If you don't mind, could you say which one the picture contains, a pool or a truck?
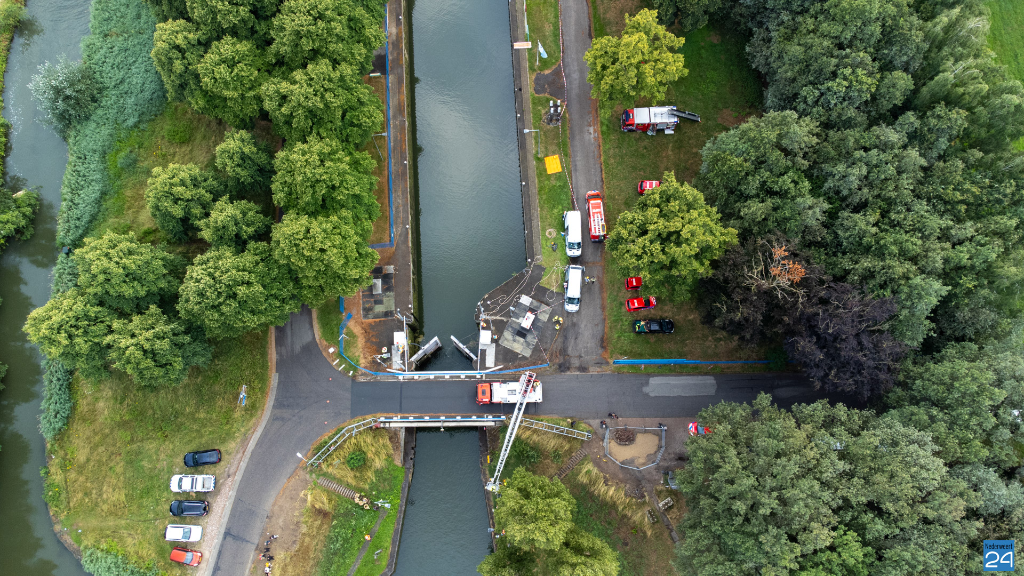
truck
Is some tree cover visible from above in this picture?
Yes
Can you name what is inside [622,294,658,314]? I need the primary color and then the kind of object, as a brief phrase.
red car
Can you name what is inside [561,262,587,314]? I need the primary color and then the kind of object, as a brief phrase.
white vehicle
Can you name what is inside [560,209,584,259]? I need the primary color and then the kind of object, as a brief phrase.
white vehicle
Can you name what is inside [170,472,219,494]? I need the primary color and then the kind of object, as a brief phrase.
white truck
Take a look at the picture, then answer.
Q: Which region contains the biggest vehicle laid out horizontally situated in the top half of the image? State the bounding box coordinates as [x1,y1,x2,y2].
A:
[619,111,700,142]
